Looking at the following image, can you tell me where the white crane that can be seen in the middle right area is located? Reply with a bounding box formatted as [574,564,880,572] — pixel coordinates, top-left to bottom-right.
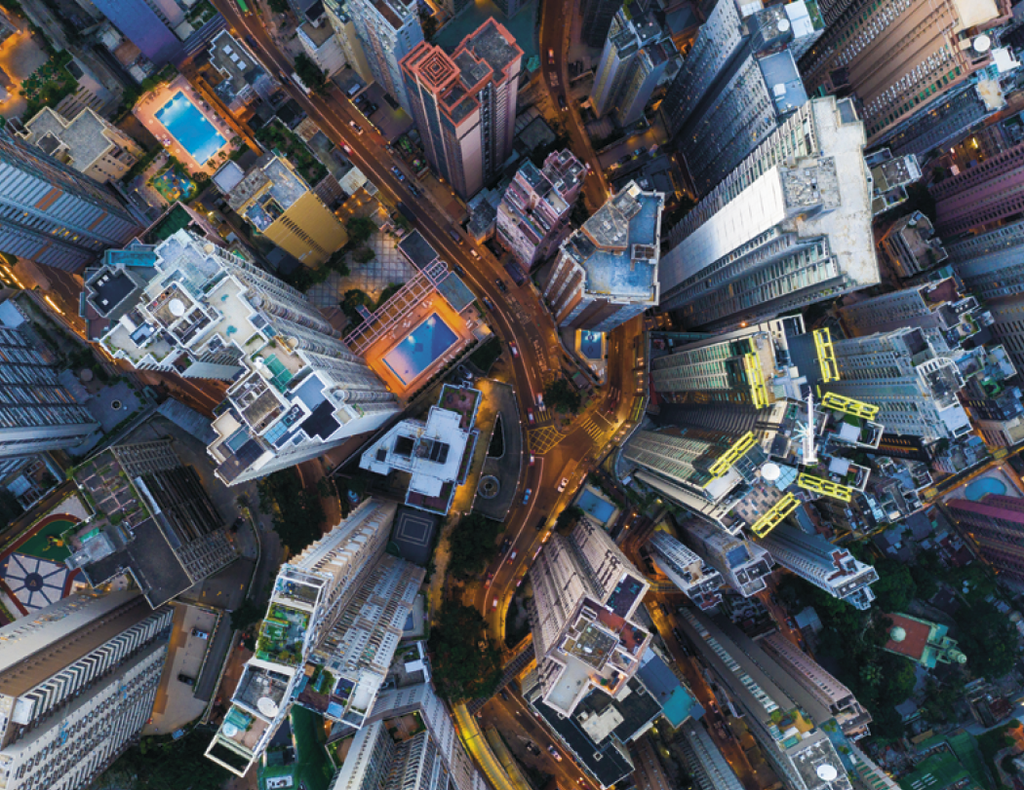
[794,379,818,463]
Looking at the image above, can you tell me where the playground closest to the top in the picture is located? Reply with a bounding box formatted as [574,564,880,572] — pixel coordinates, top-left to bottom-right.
[152,164,194,203]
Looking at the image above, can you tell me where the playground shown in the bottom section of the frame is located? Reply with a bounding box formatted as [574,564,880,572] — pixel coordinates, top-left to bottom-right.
[0,491,90,622]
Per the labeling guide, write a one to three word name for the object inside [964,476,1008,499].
swimming pool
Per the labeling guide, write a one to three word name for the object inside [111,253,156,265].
swimming pool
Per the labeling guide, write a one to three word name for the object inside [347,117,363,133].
vehicle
